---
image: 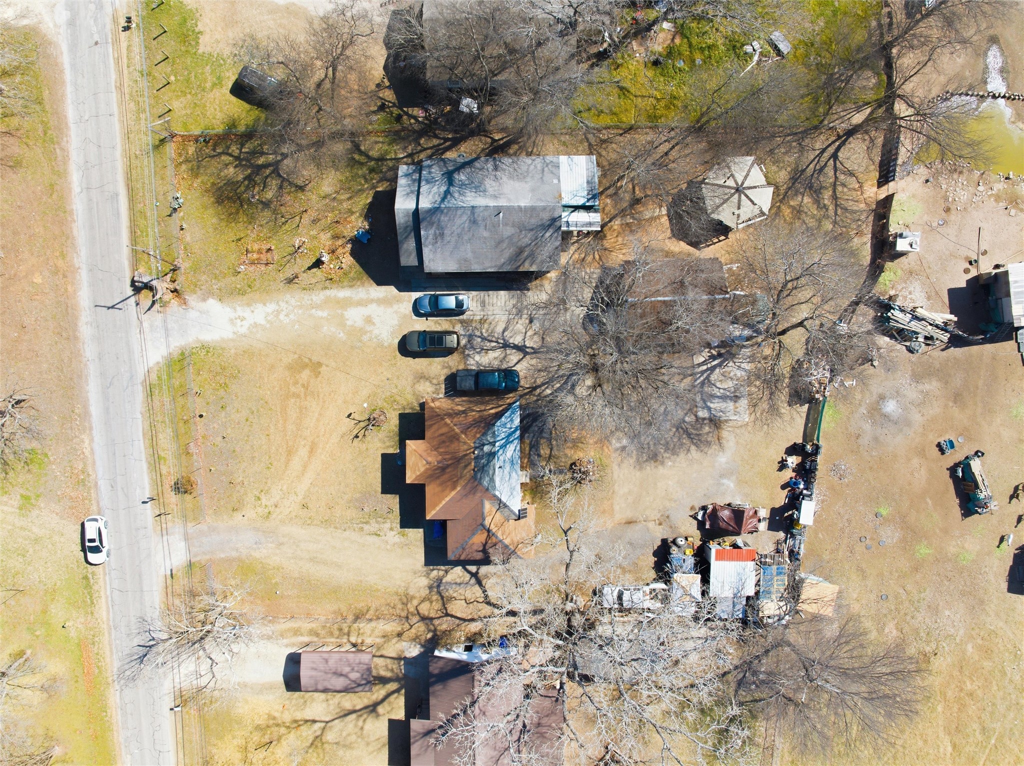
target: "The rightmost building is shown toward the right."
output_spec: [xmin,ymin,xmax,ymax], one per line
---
[950,262,1024,329]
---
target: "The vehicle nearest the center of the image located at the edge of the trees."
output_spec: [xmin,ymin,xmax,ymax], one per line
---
[456,366,520,394]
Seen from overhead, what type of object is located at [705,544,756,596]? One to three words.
shed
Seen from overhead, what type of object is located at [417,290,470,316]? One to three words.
car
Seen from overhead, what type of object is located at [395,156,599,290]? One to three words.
house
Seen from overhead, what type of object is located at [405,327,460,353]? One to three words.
car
